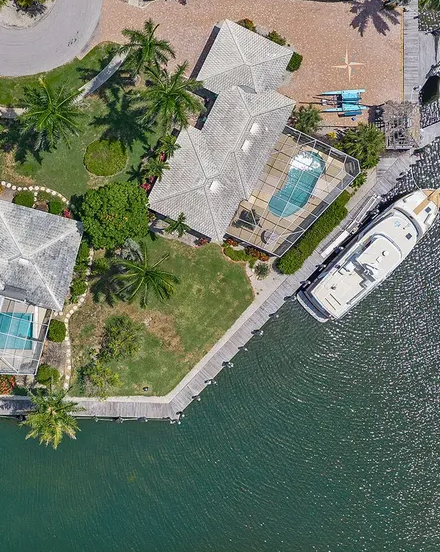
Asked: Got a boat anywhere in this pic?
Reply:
Yes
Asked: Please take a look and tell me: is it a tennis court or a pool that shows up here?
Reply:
pool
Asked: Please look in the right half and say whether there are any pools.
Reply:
Yes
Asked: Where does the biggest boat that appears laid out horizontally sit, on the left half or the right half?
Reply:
right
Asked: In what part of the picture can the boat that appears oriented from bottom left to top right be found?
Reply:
right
